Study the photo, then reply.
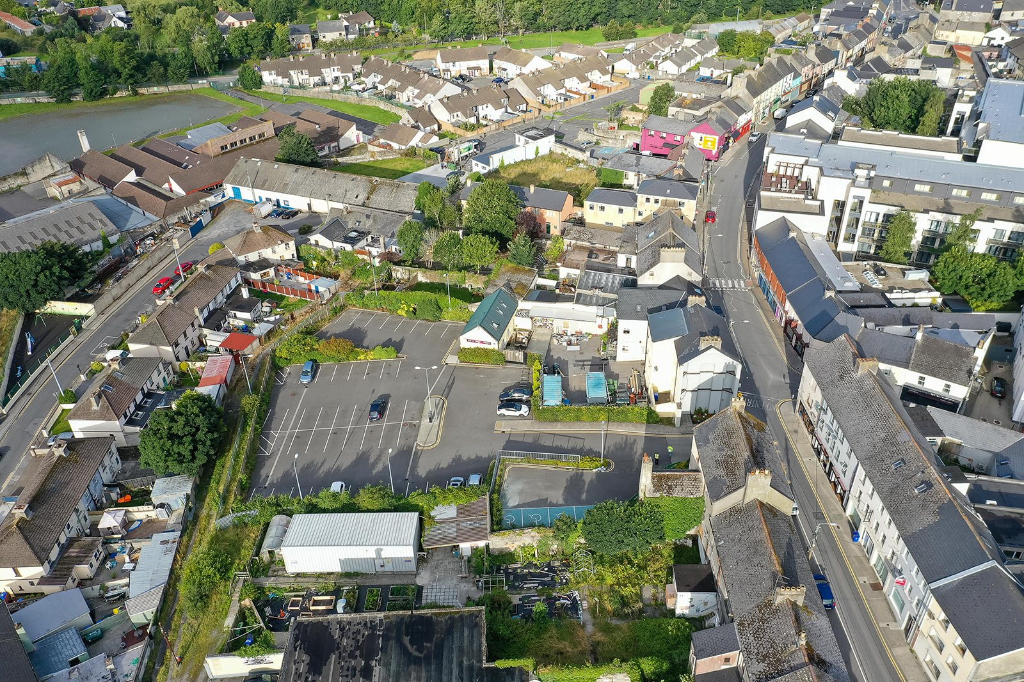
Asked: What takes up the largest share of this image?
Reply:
buildings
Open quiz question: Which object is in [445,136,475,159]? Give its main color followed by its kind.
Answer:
white truck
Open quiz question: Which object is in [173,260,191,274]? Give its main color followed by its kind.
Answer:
red car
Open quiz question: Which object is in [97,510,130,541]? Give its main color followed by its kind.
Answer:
white gazebo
